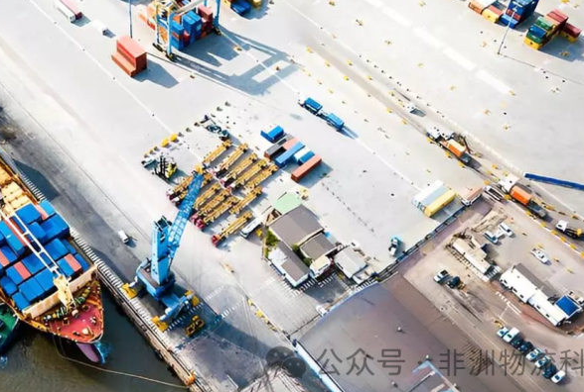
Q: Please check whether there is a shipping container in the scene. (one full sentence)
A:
Yes, there is a shipping container in the image.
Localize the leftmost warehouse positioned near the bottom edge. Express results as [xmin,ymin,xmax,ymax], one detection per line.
[295,272,530,392]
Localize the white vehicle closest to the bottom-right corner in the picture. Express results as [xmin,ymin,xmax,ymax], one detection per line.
[547,366,566,381]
